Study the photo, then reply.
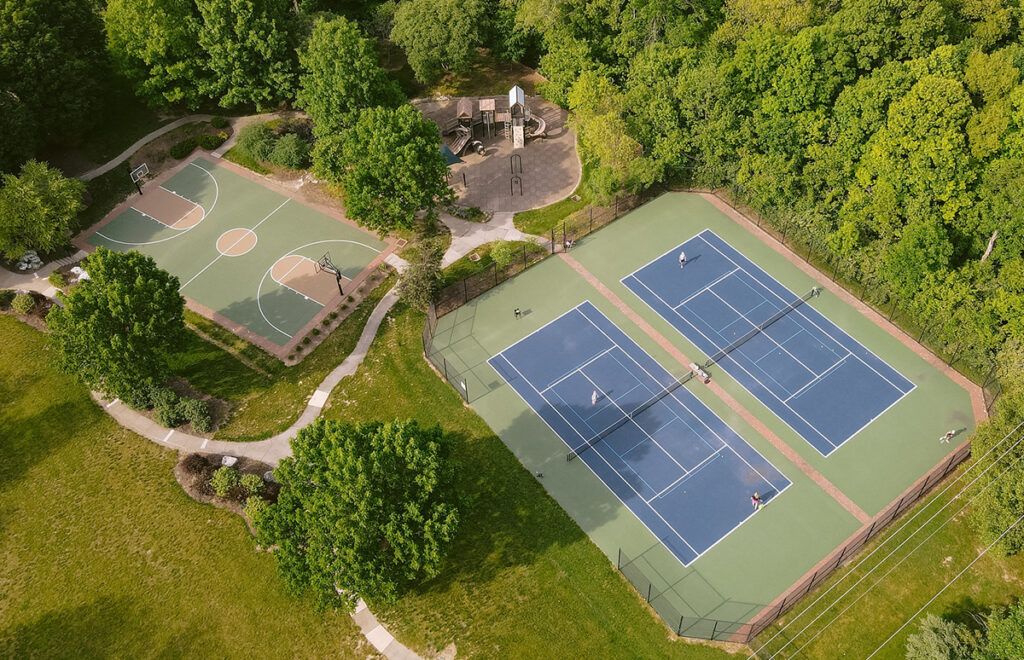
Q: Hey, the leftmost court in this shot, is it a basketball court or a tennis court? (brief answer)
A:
basketball court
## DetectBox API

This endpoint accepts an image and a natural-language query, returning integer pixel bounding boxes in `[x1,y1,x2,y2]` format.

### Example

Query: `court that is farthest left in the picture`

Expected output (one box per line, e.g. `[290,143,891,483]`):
[73,149,397,357]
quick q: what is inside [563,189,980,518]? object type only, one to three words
tennis court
